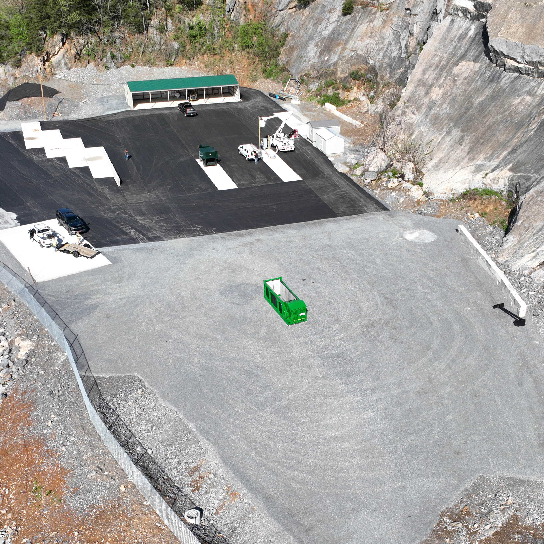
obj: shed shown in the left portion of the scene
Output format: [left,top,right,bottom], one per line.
[122,71,246,110]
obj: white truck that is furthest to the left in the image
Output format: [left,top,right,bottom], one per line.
[23,217,61,247]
